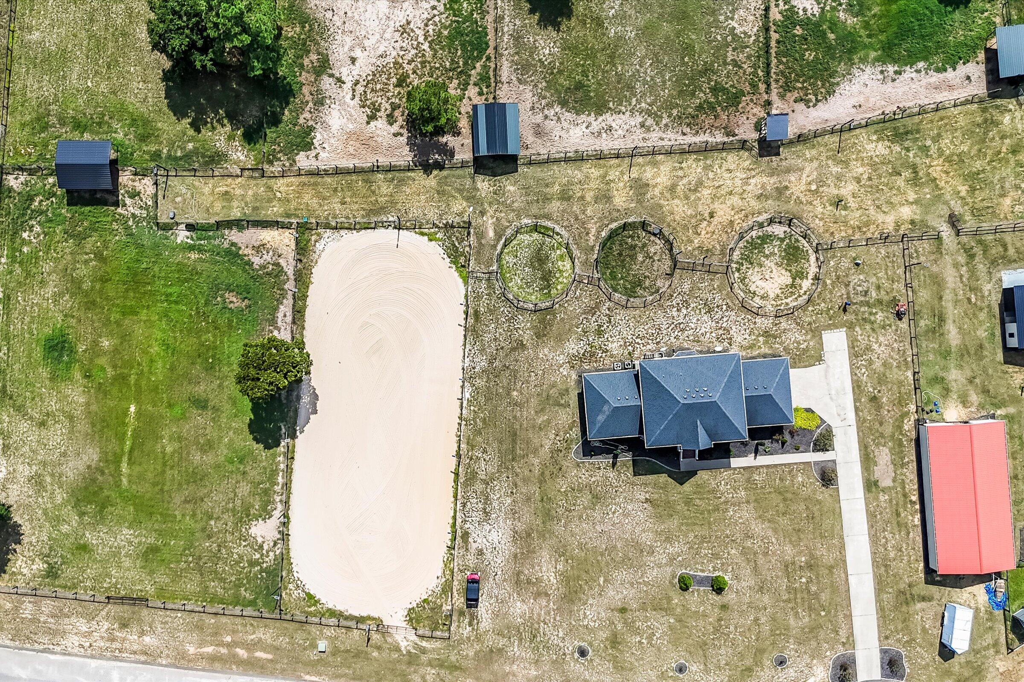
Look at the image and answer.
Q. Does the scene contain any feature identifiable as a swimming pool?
No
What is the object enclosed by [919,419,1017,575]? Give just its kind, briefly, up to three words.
barn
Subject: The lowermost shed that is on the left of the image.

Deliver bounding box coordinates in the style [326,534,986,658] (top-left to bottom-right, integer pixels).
[55,140,119,190]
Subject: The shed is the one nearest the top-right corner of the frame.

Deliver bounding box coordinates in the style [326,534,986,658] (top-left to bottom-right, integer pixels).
[985,24,1024,82]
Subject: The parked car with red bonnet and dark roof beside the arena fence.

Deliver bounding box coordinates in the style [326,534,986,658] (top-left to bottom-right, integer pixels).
[465,573,481,610]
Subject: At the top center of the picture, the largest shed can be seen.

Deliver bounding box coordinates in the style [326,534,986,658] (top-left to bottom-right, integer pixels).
[472,102,520,157]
